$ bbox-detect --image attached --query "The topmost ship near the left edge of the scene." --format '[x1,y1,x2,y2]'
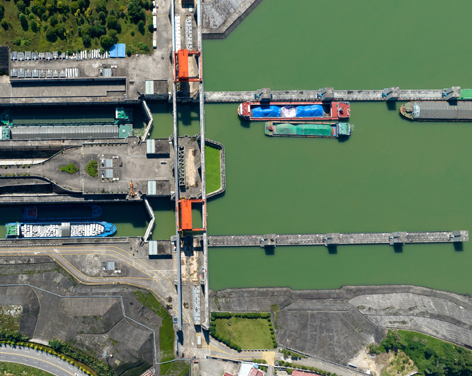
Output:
[0,109,132,124]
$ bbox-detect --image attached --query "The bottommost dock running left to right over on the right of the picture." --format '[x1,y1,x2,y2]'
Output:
[207,231,472,247]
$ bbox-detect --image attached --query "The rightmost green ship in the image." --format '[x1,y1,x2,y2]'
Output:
[264,121,352,137]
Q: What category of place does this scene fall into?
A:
port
